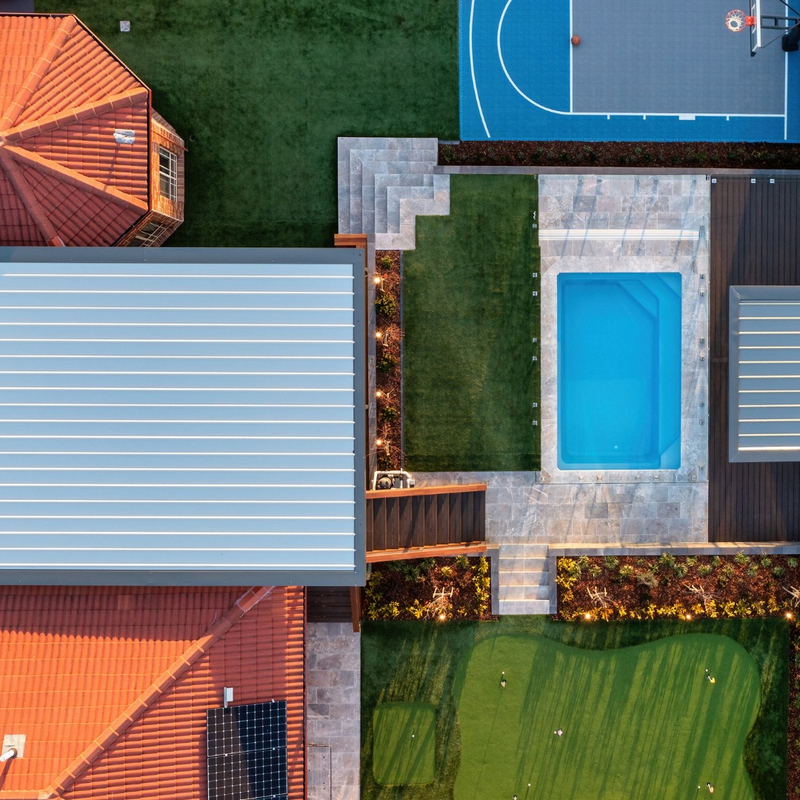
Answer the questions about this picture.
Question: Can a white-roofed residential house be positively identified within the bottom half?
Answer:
No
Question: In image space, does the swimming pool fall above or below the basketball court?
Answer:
below it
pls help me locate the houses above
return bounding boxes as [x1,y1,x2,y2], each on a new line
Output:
[0,585,309,800]
[0,12,188,249]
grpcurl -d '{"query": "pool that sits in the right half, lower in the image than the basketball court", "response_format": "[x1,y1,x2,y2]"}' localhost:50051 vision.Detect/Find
[540,256,698,486]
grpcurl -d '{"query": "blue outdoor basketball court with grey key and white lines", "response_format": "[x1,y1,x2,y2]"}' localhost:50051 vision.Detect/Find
[459,0,800,141]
